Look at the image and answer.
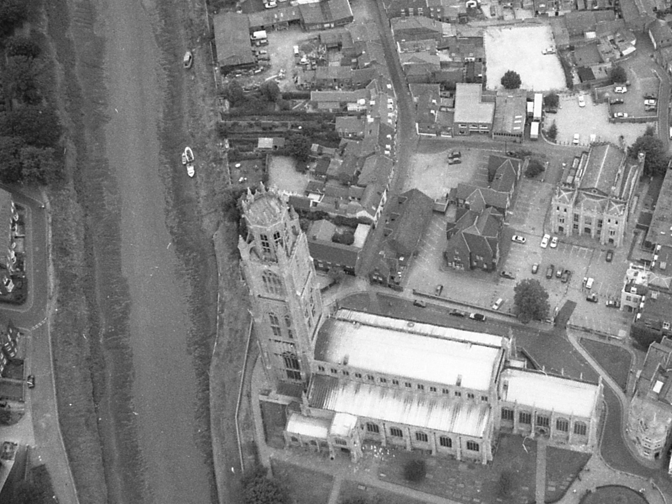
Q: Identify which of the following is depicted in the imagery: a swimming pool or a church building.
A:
church building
